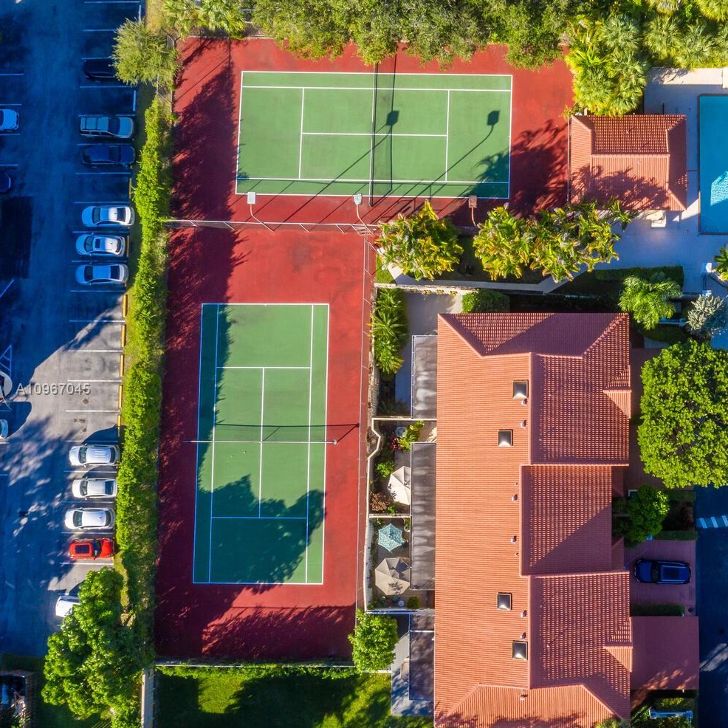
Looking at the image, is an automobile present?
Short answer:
Yes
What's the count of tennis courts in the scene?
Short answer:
2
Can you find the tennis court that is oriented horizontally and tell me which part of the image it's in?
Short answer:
top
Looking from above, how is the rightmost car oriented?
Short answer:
horizontally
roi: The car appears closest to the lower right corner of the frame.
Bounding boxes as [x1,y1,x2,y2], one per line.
[633,558,691,585]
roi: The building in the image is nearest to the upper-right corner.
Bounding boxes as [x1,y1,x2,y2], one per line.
[569,114,689,215]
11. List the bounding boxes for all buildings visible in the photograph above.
[569,114,689,215]
[433,313,633,728]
